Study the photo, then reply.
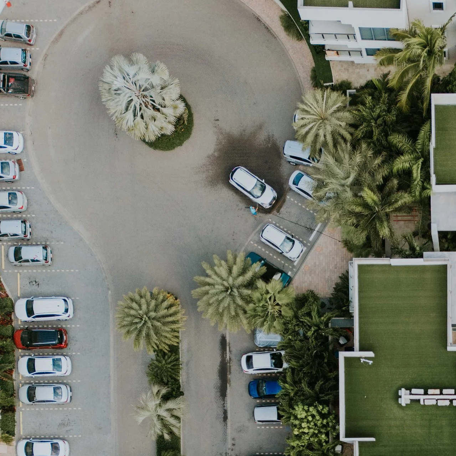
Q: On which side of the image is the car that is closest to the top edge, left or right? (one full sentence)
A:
The car that is closest to the top edge sits on the left side.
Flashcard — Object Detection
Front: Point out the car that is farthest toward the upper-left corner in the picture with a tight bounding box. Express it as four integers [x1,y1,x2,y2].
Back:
[0,17,36,48]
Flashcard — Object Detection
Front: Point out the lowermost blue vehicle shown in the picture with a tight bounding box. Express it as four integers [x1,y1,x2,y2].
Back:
[252,376,281,400]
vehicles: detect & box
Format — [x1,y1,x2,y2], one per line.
[241,247,297,290]
[0,73,35,101]
[17,436,71,456]
[0,161,23,184]
[0,132,28,157]
[255,404,280,425]
[0,17,36,48]
[15,295,74,323]
[20,381,73,406]
[0,191,29,215]
[275,136,330,169]
[0,49,31,73]
[256,220,306,263]
[19,353,73,378]
[0,219,32,243]
[225,162,280,211]
[282,162,332,203]
[240,349,280,374]
[14,325,70,352]
[7,243,55,268]
[252,376,281,400]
